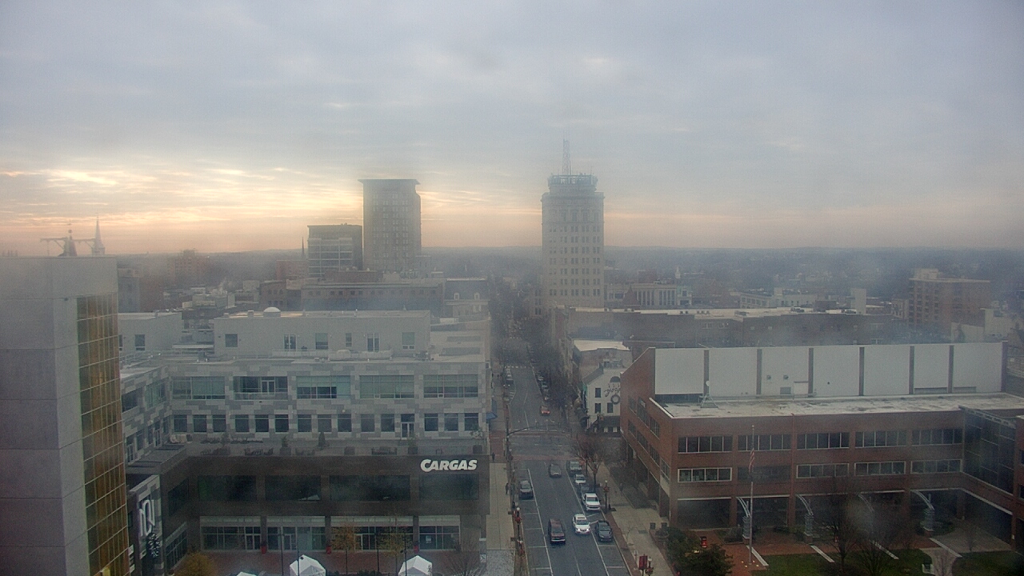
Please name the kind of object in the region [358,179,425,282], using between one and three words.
building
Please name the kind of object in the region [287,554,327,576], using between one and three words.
tent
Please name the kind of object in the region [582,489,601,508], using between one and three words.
vehicle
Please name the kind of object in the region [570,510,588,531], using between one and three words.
car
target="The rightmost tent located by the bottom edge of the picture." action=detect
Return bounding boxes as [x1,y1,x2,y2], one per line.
[397,553,435,576]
